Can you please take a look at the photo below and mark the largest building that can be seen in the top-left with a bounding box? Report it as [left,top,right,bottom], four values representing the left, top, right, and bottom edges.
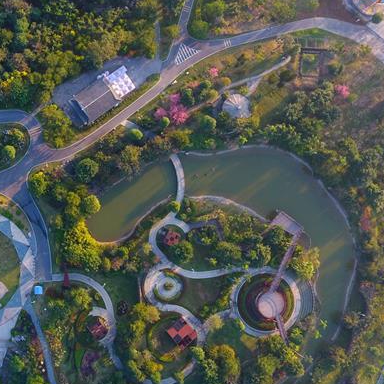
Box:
[68,66,137,128]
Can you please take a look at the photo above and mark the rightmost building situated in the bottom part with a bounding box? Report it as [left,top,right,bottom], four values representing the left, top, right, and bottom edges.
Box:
[165,316,197,348]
